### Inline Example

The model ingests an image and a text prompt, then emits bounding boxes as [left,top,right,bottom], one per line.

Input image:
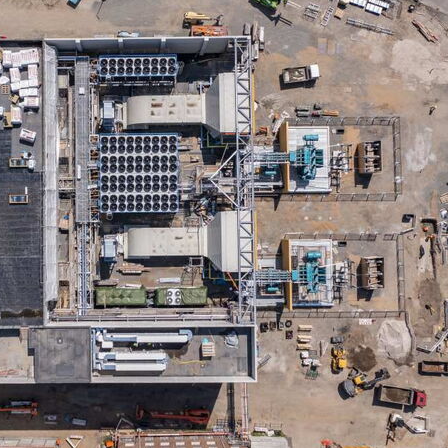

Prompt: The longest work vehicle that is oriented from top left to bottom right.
[385,408,421,435]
